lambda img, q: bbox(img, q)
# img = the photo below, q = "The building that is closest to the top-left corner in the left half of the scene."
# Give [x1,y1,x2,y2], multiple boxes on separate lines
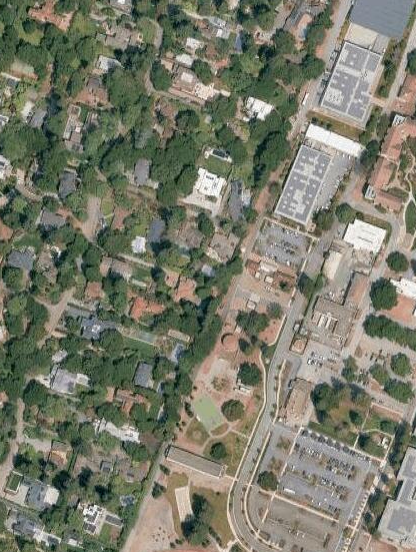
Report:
[27,0,76,31]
